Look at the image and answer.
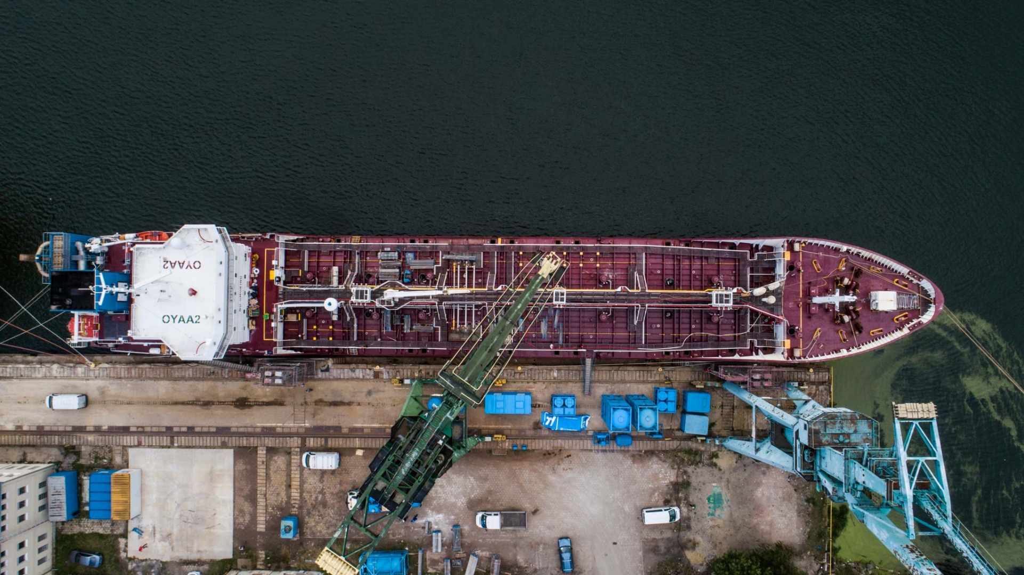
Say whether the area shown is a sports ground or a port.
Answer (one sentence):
What you see here is a port.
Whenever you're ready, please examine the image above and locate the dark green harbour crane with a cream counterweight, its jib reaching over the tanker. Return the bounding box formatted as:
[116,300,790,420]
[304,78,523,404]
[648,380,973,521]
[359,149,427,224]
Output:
[314,250,570,575]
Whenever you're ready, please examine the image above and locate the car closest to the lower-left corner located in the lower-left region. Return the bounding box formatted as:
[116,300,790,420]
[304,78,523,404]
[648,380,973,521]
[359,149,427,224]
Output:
[71,547,106,566]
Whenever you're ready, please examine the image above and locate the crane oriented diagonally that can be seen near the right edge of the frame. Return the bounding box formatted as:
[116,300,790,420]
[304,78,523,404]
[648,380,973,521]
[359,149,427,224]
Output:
[689,379,1014,575]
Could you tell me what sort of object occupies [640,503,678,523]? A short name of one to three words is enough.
vehicle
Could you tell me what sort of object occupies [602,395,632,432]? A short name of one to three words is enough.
storage tank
